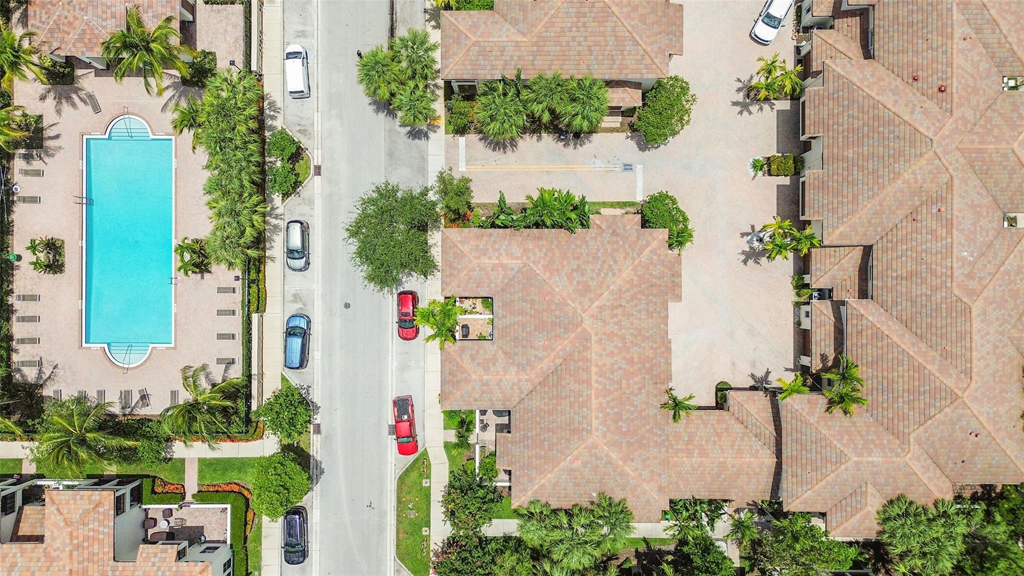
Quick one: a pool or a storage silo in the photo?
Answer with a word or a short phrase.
pool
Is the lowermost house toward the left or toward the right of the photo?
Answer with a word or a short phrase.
left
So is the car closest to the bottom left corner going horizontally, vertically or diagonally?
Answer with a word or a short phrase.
vertically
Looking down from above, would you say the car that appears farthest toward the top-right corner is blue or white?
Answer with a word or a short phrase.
white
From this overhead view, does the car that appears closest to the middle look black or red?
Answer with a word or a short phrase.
red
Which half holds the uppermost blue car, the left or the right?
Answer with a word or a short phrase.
left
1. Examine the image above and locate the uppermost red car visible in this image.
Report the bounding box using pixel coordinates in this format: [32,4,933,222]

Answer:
[396,290,420,339]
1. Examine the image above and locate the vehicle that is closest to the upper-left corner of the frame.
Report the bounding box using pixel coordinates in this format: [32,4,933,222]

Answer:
[282,45,311,99]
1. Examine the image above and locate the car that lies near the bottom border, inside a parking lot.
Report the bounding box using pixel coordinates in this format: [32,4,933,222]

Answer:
[282,506,310,562]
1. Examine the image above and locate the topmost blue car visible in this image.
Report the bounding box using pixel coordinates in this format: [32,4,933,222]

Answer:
[283,313,311,369]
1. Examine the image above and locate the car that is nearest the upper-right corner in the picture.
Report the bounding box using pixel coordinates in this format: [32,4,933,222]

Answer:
[754,0,791,46]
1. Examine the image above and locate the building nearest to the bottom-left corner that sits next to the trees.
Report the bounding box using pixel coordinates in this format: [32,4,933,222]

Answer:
[0,478,229,576]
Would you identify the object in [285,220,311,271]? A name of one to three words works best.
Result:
car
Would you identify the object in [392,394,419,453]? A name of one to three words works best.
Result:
truck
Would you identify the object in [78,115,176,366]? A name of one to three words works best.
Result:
swimming pool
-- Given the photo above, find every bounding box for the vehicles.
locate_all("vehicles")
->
[282,45,311,99]
[396,290,420,339]
[285,220,311,271]
[392,394,419,453]
[282,506,310,562]
[754,0,791,46]
[283,313,311,369]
